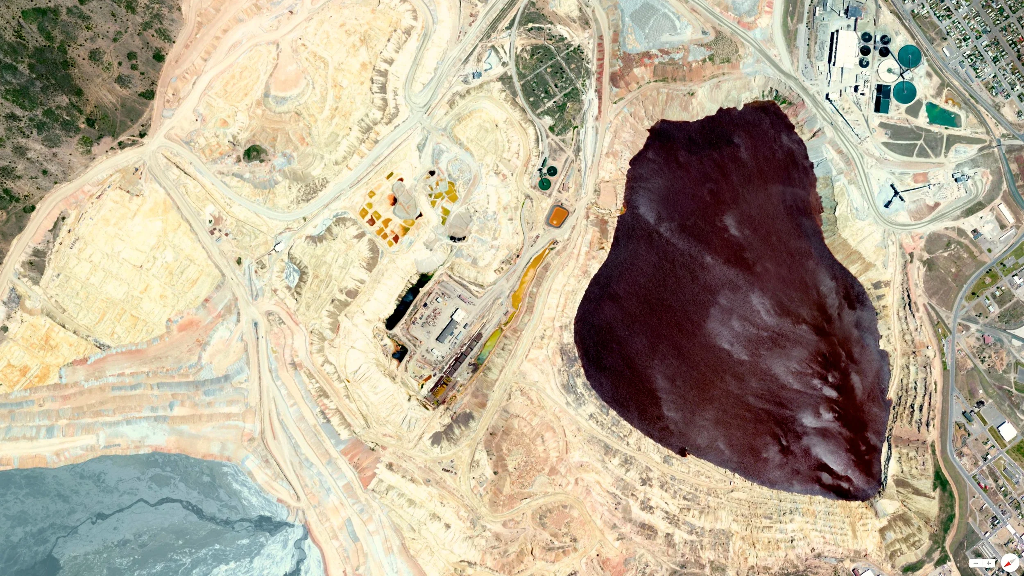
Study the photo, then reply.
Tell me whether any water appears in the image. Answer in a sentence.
Yes, the picture does contain water.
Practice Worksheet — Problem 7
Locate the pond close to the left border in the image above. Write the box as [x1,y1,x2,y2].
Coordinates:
[0,451,325,576]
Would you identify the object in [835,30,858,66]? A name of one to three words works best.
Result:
building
